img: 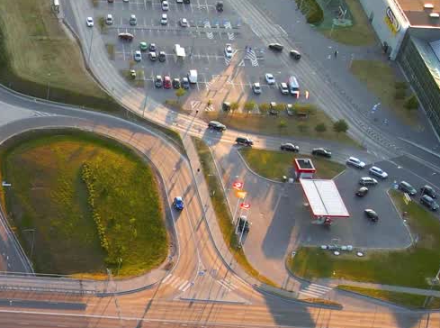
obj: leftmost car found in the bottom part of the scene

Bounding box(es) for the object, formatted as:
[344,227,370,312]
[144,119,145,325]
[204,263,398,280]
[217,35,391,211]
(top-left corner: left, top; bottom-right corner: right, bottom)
[170,195,185,210]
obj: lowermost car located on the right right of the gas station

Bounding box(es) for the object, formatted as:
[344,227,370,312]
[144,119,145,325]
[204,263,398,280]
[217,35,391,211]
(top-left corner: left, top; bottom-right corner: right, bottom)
[360,209,383,223]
